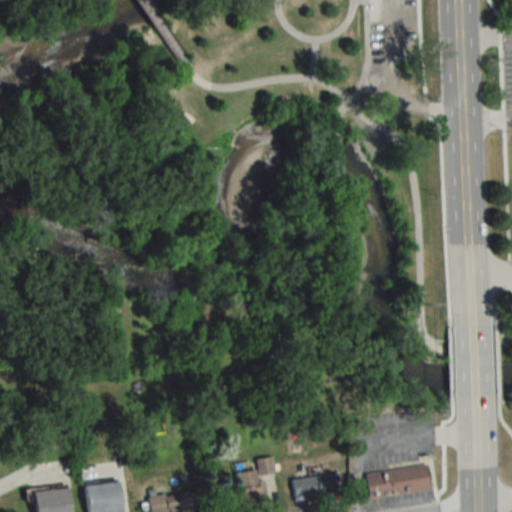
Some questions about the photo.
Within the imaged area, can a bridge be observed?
Yes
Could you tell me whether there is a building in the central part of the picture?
No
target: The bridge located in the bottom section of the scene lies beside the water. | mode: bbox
[448,313,502,424]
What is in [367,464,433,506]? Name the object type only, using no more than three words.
building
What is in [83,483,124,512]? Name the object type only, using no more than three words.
house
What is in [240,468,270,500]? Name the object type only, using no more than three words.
house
